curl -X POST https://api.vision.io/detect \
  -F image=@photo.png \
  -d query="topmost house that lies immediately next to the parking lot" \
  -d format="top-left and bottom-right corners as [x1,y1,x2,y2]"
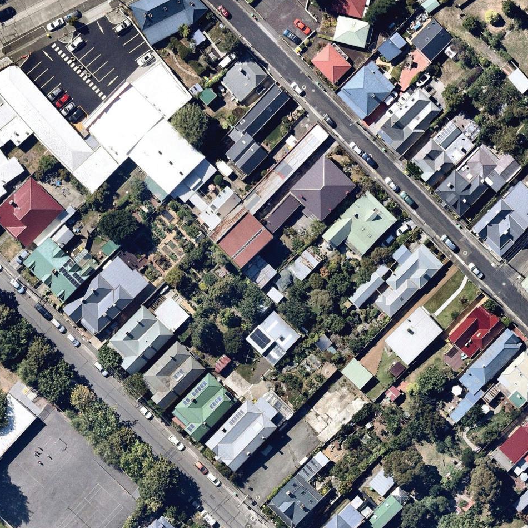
[129,0,204,43]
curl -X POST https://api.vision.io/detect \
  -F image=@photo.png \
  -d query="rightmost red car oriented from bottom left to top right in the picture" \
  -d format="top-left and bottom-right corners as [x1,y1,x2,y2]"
[55,94,71,107]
